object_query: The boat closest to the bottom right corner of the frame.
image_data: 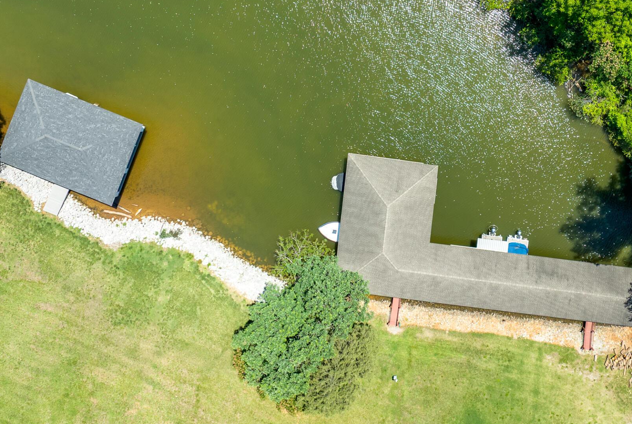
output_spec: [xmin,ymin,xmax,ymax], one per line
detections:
[507,231,528,255]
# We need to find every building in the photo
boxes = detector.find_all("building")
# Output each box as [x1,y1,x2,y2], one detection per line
[0,79,150,207]
[336,153,632,327]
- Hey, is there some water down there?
Yes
